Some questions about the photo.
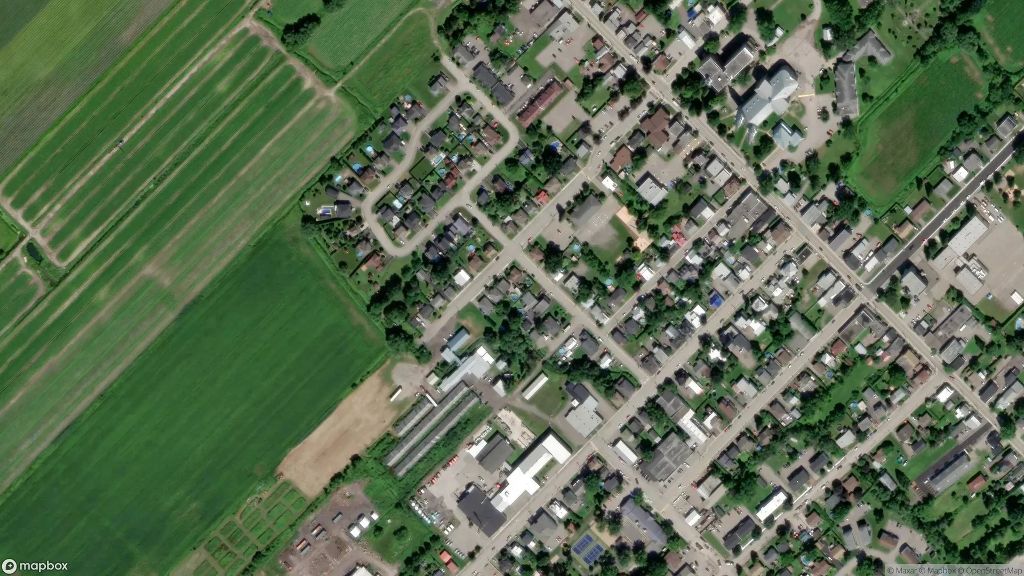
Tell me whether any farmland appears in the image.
Yes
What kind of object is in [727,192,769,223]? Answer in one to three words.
building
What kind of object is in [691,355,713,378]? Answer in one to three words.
house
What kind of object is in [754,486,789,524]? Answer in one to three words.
building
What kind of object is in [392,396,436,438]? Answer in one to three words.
barn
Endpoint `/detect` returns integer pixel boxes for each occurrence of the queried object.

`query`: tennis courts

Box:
[572,534,594,555]
[583,543,605,565]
